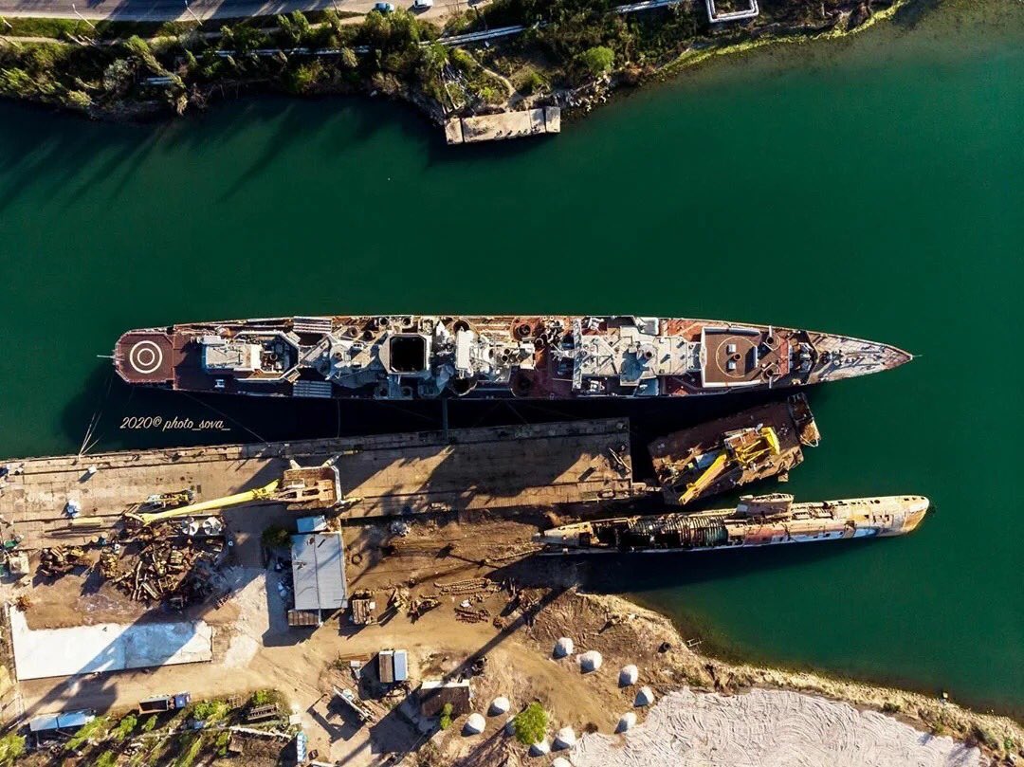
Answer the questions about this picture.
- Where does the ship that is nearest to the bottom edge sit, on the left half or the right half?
right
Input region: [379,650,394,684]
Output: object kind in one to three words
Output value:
shed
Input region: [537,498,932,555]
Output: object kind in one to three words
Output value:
ship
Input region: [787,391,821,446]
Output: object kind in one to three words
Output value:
ship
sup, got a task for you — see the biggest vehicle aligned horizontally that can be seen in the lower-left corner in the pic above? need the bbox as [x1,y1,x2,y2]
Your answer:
[135,697,187,718]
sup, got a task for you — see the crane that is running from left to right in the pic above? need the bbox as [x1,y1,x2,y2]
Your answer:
[125,450,373,523]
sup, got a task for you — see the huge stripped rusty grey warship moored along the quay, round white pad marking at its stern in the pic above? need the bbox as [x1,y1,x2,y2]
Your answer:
[98,314,920,399]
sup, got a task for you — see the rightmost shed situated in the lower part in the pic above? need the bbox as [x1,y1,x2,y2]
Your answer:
[421,675,471,717]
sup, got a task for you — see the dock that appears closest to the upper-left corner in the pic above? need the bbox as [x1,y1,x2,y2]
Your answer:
[445,105,560,147]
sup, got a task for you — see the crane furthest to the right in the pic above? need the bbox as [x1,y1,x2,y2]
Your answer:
[656,424,780,503]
